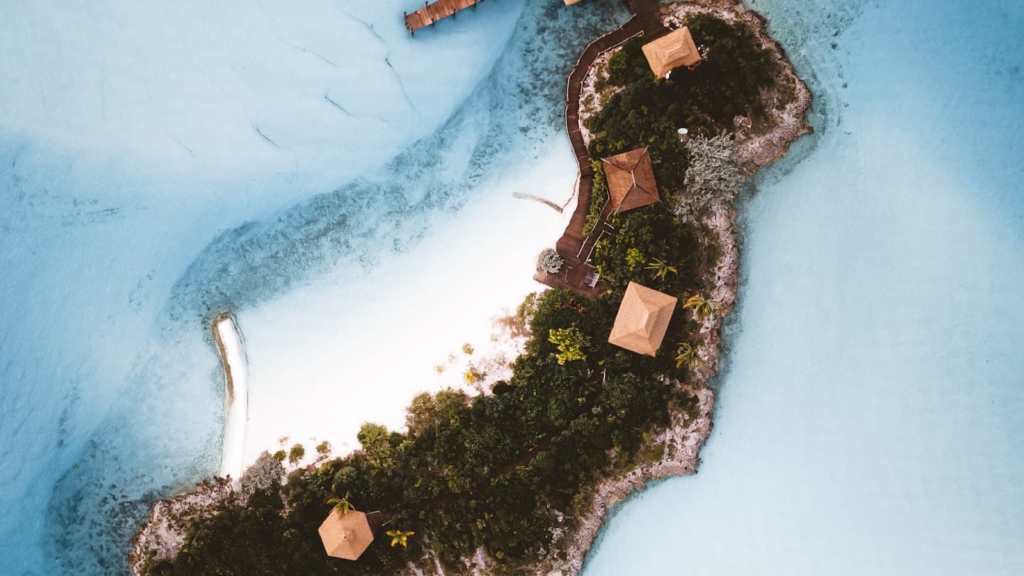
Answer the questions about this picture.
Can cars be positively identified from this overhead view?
No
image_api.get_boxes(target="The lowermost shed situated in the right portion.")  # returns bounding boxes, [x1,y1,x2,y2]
[608,281,677,358]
